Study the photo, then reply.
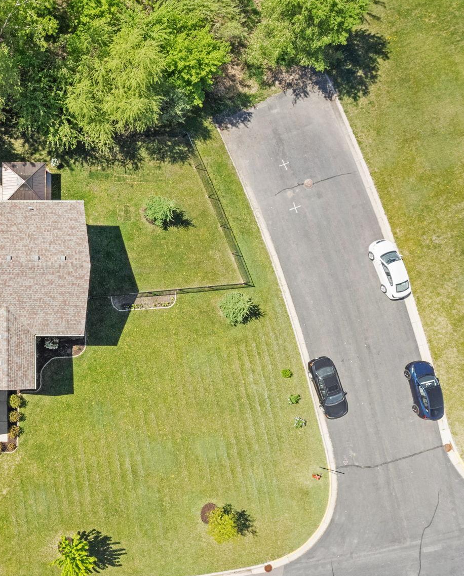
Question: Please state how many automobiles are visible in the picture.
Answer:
3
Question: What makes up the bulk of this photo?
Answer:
grass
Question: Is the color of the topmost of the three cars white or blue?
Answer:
white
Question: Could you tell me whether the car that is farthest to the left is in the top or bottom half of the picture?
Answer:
bottom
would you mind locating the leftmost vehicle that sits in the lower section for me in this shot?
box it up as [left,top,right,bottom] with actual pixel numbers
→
[309,357,349,419]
